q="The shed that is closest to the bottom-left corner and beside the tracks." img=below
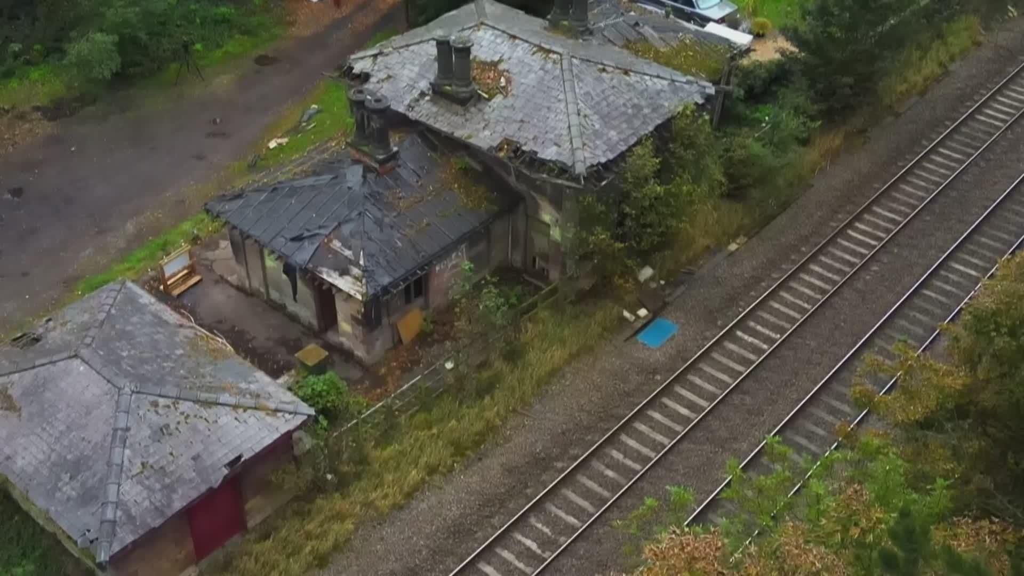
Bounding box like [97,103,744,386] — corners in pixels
[0,278,318,576]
